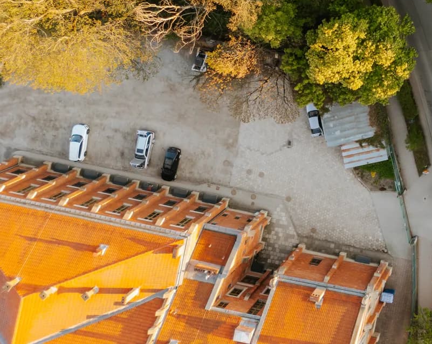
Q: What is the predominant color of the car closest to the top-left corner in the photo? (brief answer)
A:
white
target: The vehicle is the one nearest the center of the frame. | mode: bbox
[162,142,184,183]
